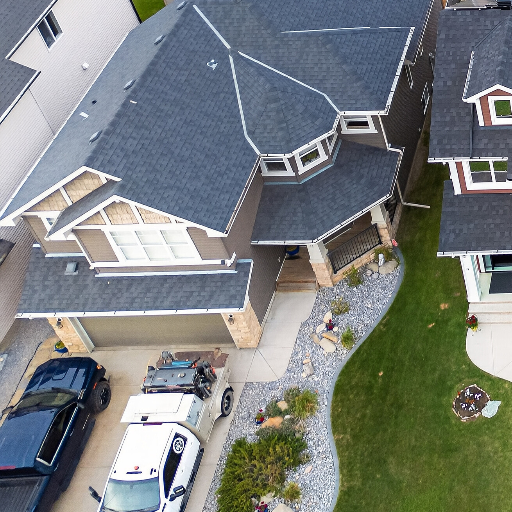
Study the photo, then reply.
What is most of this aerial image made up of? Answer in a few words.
buildings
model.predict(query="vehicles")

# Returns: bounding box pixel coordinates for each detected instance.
[0,360,111,512]
[87,348,233,512]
